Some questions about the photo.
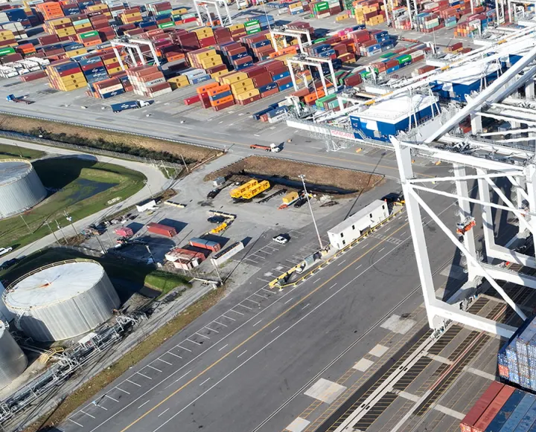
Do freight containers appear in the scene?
Yes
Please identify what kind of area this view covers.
industrial area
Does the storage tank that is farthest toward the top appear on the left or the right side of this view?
left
